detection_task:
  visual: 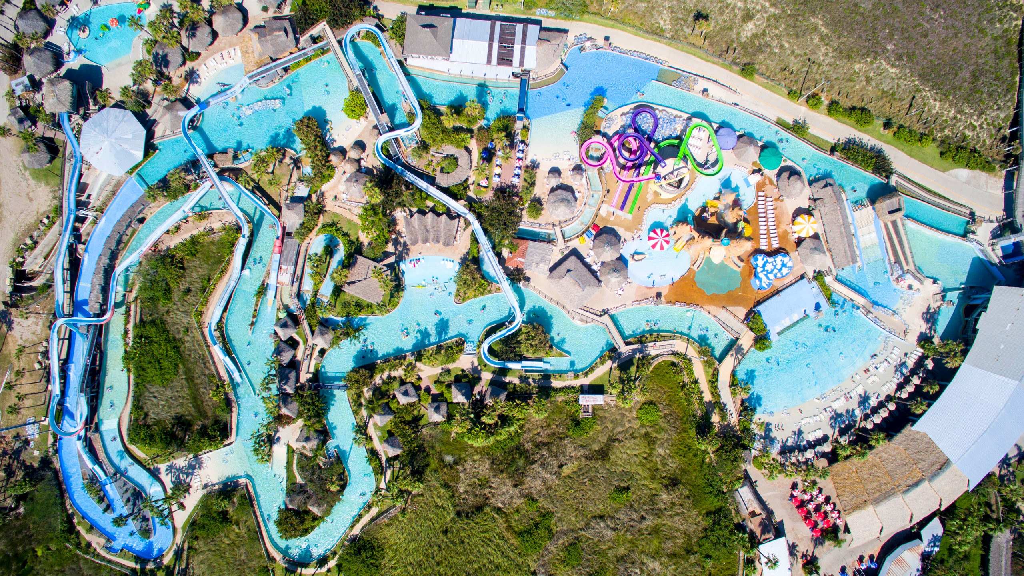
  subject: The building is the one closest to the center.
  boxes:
[549,250,601,310]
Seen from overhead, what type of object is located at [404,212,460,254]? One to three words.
building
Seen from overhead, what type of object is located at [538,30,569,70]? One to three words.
shed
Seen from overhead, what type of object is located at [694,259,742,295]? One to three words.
swimming pool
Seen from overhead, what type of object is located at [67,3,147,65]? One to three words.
swimming pool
